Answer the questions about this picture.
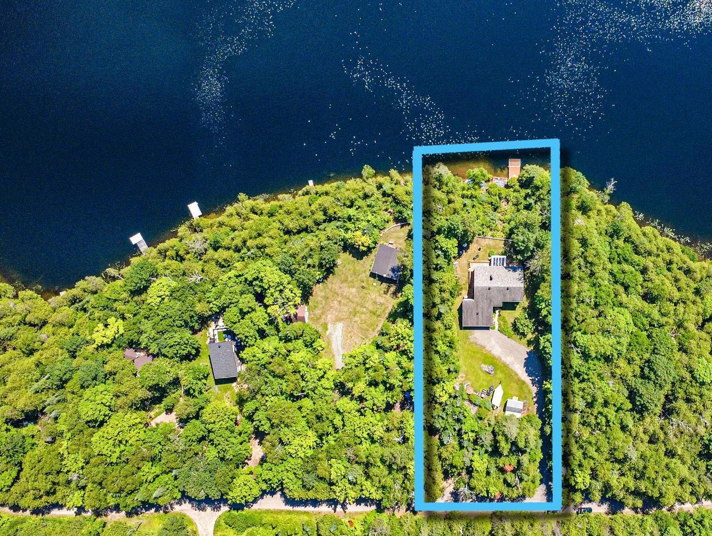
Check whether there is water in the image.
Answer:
Yes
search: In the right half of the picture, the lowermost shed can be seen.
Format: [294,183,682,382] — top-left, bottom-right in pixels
[505,395,523,417]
